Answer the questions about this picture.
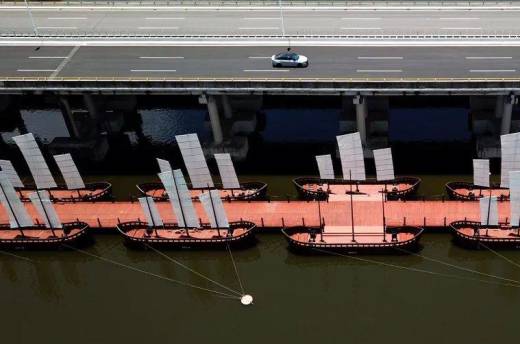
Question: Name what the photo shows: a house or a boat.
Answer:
boat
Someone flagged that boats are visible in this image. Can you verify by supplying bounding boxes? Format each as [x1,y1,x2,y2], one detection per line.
[291,131,420,200]
[281,169,422,254]
[0,132,106,201]
[0,169,84,249]
[452,171,520,249]
[448,131,520,201]
[111,166,253,249]
[132,132,263,201]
